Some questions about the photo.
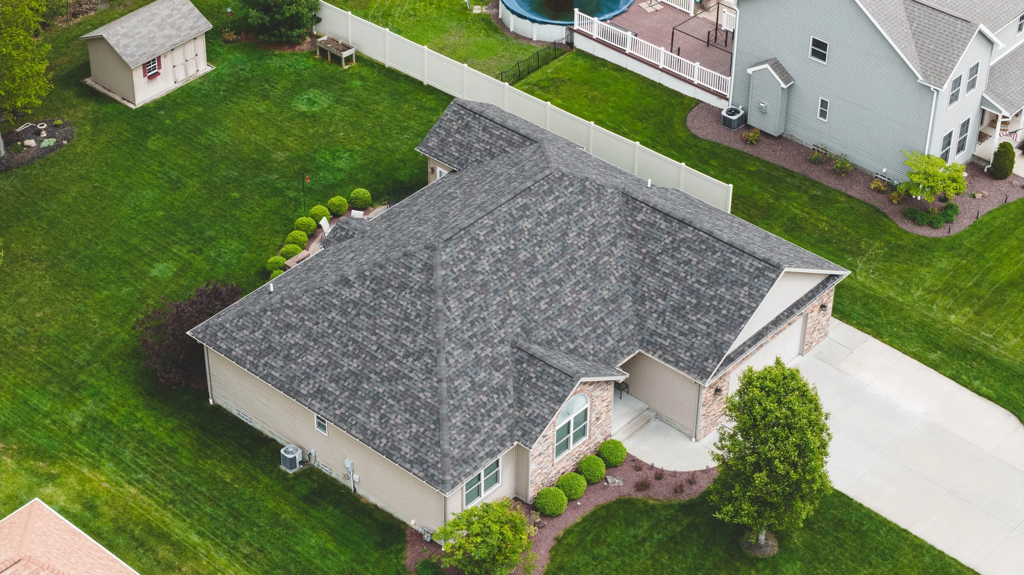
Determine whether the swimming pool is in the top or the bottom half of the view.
top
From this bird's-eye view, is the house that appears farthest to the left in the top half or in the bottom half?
bottom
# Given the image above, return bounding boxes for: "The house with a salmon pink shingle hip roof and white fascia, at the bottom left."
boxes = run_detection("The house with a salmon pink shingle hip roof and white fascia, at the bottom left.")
[0,497,142,575]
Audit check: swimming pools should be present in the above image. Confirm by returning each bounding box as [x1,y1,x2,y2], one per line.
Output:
[488,0,637,45]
